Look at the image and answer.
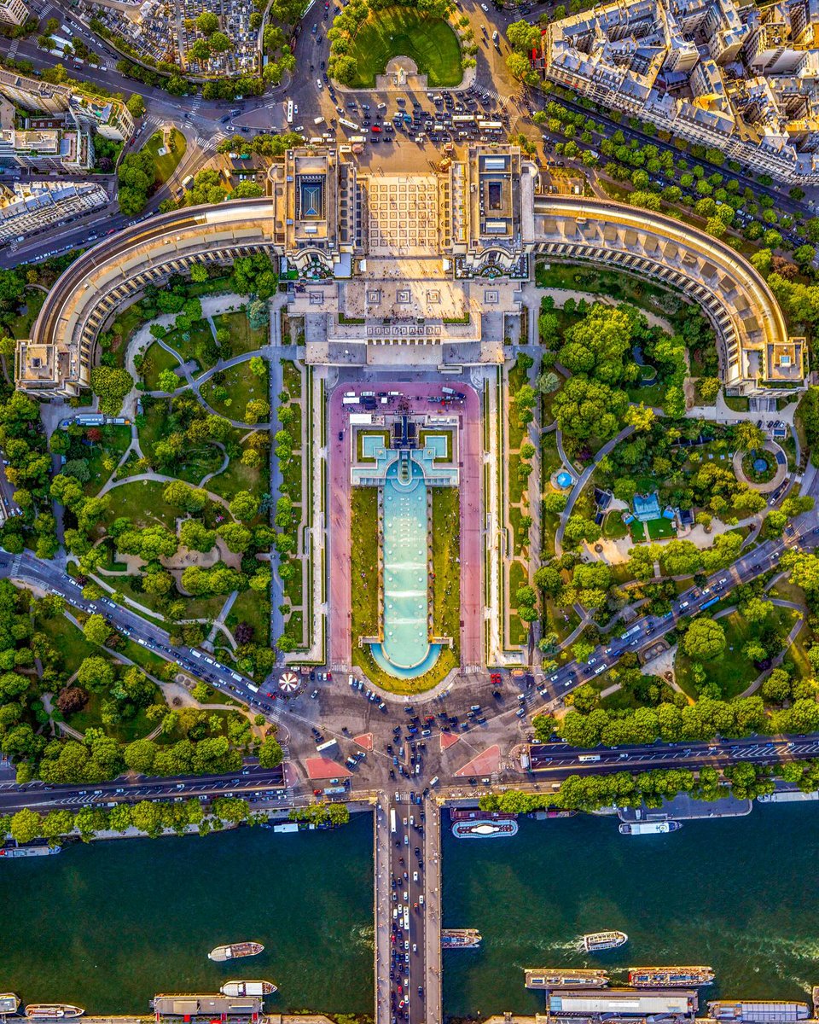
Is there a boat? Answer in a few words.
Yes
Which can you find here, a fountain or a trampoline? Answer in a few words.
fountain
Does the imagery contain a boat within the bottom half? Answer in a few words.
Yes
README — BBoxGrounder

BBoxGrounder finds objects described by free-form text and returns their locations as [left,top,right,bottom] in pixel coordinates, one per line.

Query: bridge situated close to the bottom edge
[372,798,446,1024]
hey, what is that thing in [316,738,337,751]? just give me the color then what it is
white vehicle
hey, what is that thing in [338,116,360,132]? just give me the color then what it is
white vehicle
